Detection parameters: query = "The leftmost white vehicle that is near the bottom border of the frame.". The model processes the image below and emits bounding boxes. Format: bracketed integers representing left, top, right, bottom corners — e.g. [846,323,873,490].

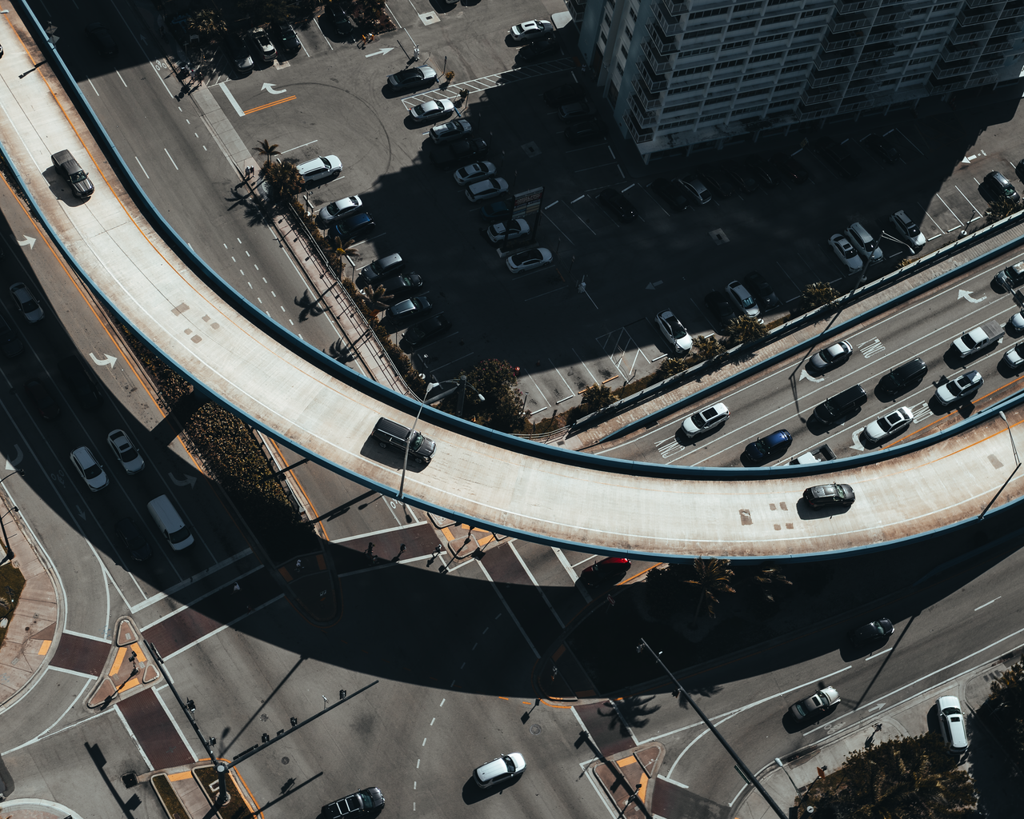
[471,751,527,789]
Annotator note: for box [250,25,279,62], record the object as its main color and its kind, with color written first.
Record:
black car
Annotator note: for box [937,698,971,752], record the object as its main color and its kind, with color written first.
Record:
white car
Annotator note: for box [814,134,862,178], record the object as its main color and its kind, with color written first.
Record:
black truck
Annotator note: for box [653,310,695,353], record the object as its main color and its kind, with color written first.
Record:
black car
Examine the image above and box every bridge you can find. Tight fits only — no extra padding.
[0,0,1024,568]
